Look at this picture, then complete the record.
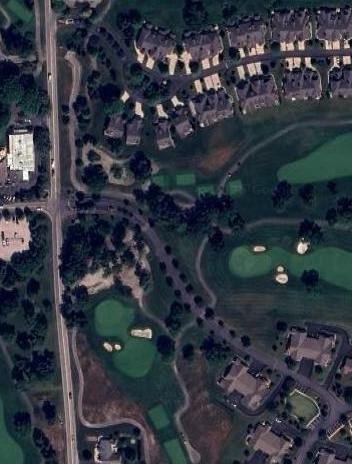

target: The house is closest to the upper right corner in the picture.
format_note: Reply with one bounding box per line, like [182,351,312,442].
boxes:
[314,7,352,40]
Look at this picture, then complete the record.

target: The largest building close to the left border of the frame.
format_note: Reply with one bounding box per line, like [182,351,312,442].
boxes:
[6,129,34,181]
